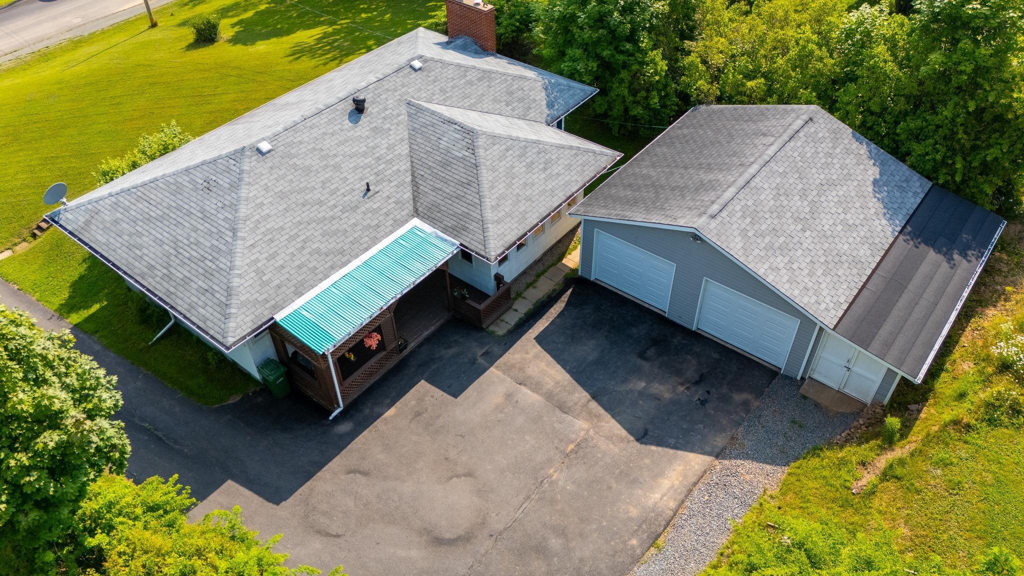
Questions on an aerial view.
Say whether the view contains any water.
No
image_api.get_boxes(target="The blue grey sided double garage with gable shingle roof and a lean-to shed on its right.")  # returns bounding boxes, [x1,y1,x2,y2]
[569,105,1008,403]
